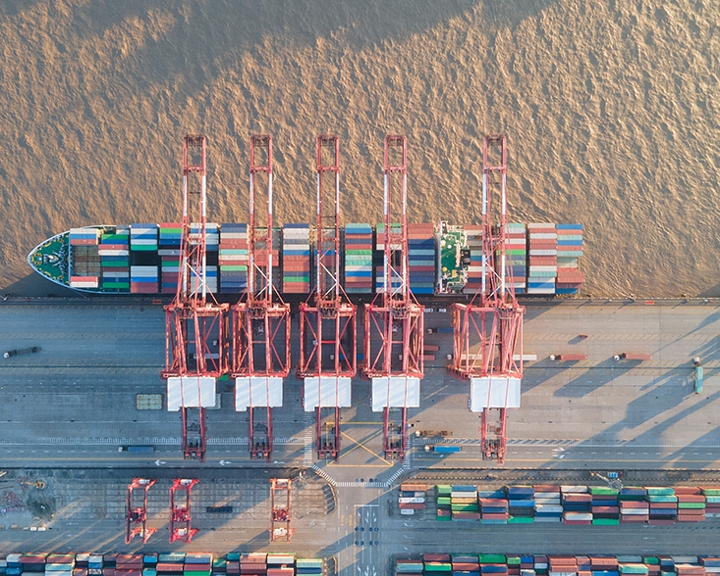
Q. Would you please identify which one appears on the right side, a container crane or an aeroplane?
container crane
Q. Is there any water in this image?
Yes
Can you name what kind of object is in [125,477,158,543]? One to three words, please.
container crane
